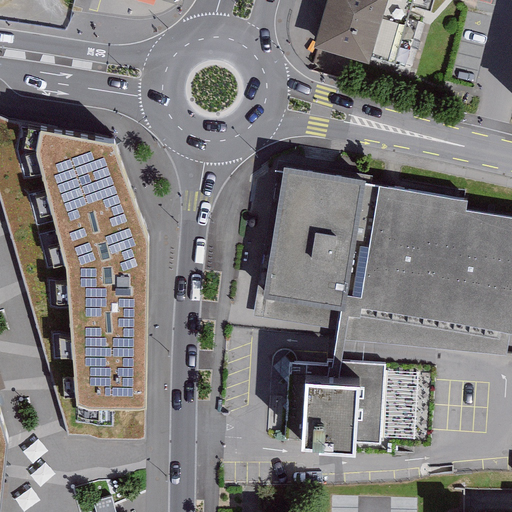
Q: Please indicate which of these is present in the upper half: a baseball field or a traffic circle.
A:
traffic circle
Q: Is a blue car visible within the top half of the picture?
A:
Yes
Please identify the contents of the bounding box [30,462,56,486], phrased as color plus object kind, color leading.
white umbrella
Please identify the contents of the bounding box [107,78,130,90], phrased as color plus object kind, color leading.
gray vehicle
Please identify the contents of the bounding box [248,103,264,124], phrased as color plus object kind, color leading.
blue car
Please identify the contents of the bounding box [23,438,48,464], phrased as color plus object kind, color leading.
white umbrella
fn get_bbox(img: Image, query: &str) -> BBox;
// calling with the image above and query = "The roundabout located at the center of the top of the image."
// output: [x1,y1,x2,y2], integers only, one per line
[139,13,290,164]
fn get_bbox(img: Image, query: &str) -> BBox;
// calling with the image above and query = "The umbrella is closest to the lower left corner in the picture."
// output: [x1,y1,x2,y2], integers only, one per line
[15,488,40,512]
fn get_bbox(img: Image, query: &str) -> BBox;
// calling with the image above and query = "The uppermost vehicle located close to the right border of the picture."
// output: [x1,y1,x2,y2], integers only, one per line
[463,30,488,44]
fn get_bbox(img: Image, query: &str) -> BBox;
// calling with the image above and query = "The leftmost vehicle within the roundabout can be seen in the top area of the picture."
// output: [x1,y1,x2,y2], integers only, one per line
[147,90,170,104]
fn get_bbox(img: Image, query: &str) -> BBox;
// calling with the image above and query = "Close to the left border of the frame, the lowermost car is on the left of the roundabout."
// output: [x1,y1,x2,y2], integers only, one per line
[24,76,46,88]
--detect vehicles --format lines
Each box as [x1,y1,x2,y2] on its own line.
[328,92,354,108]
[198,200,210,226]
[188,312,198,334]
[463,30,488,44]
[0,33,16,44]
[260,28,270,52]
[248,103,264,124]
[455,70,476,81]
[186,344,198,368]
[288,78,312,95]
[361,104,383,117]
[272,456,288,483]
[203,172,215,196]
[172,390,182,410]
[147,90,170,104]
[186,134,208,150]
[194,236,206,264]
[245,76,259,100]
[170,460,181,484]
[464,382,474,404]
[204,120,227,132]
[190,274,202,302]
[294,470,324,481]
[24,76,46,88]
[107,78,130,90]
[184,380,194,404]
[176,276,186,300]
